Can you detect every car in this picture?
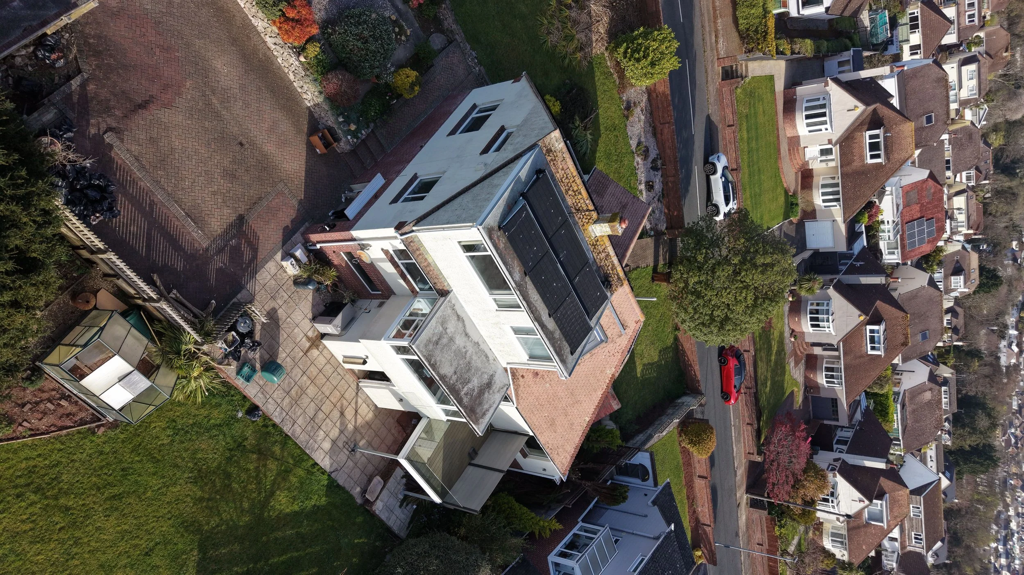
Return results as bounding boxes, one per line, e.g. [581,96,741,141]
[717,346,748,409]
[704,158,739,221]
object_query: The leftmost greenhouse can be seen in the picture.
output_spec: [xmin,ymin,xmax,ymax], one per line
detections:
[38,309,184,431]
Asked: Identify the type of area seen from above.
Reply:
residential area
